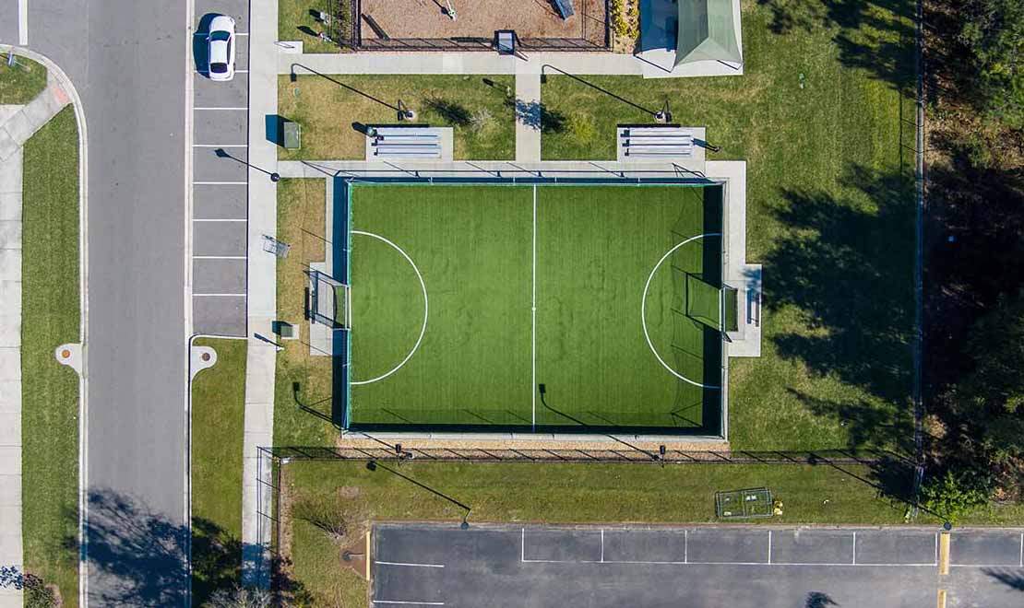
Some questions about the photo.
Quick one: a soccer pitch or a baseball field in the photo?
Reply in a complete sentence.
Of the two, only a soccer pitch appears.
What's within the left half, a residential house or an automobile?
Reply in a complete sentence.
It is an automobile that can be seen within the left half.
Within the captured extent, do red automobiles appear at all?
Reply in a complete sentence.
No, the frame has no red automobile in it.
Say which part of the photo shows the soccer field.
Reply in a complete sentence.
The soccer field is located in the center region of the scene.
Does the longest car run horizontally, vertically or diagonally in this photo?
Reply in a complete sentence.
The longest car is oriented vertically.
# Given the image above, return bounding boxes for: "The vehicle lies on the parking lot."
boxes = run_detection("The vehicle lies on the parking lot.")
[205,15,236,81]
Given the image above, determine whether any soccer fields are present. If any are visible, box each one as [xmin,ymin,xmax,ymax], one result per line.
[336,184,737,432]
